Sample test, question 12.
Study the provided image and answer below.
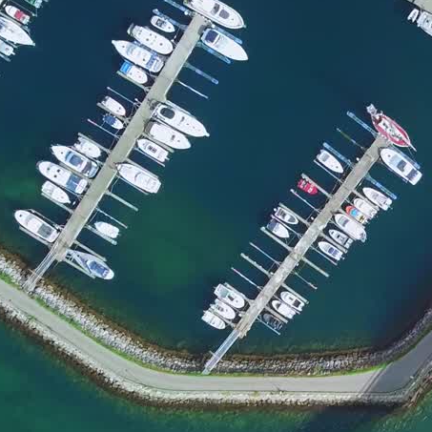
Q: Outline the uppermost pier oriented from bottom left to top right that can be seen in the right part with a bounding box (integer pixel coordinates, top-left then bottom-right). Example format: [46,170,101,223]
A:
[209,110,422,337]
